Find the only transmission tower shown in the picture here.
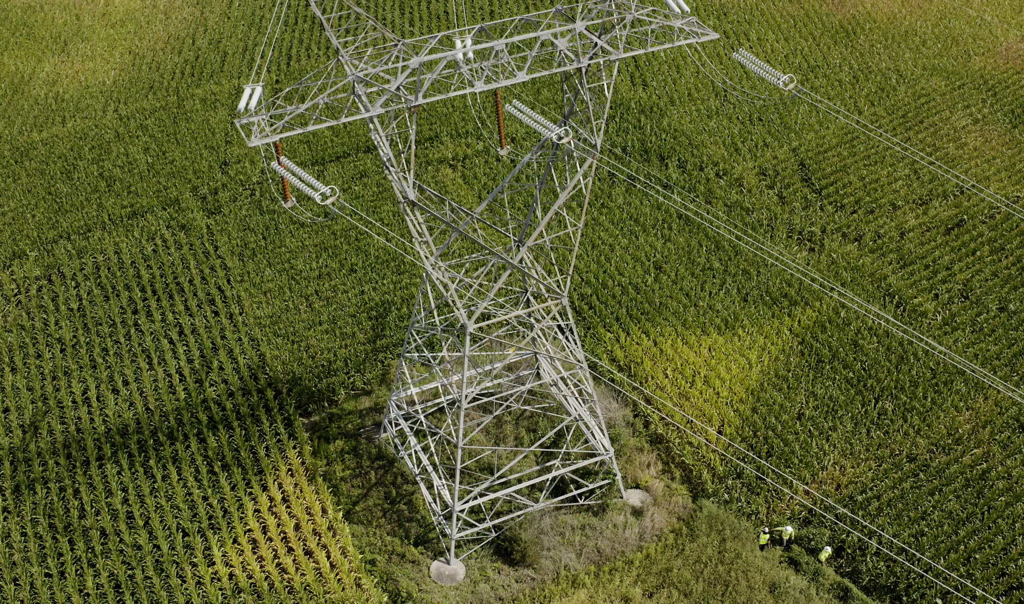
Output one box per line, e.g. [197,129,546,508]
[235,0,719,561]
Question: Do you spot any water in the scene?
No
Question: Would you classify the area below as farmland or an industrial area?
farmland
